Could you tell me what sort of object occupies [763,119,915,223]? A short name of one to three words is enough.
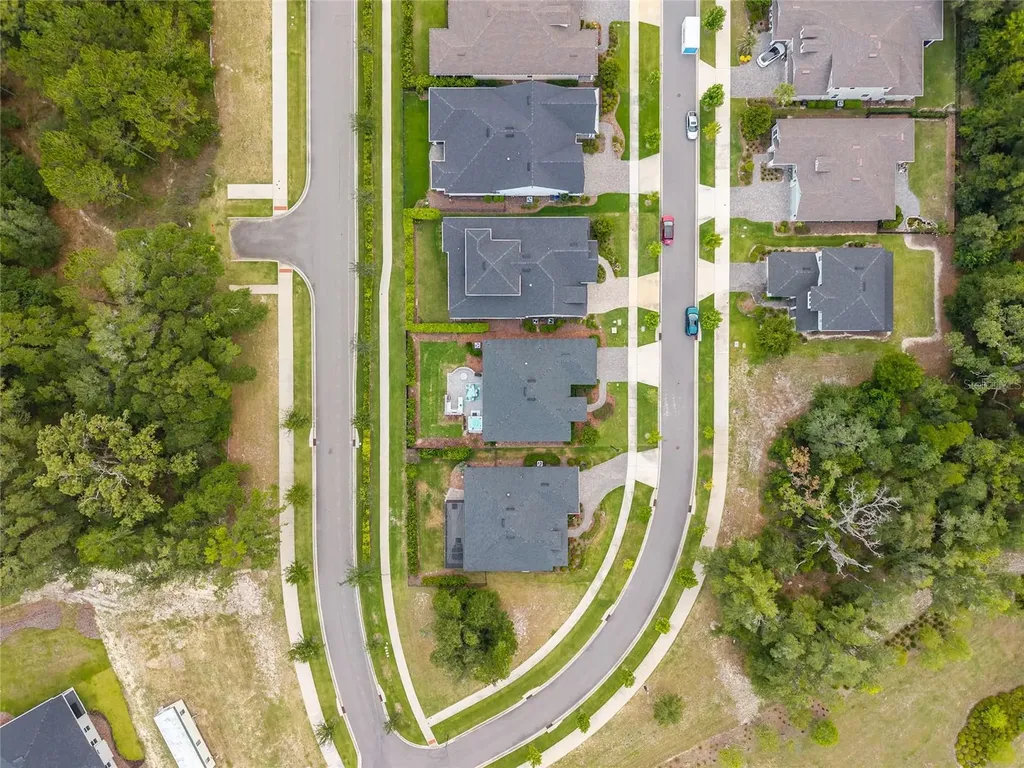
house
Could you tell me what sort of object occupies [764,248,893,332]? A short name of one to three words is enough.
house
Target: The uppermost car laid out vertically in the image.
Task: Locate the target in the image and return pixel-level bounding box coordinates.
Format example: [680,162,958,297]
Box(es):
[686,110,700,140]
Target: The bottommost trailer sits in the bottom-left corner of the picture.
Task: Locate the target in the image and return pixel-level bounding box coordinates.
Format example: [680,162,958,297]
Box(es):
[153,700,214,768]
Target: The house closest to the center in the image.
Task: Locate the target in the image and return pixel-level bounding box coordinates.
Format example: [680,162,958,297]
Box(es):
[482,338,597,441]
